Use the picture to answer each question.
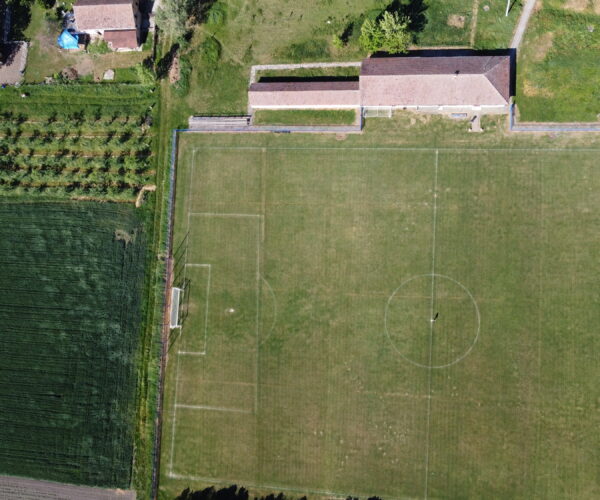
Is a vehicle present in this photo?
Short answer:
No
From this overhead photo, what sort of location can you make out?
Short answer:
sports ground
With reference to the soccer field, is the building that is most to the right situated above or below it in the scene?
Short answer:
above it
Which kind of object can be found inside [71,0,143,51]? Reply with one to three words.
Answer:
house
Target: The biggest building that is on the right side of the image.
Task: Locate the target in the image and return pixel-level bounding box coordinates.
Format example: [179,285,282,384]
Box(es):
[360,54,510,113]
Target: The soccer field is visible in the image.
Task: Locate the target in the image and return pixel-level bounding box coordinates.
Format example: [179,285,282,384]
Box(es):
[156,111,600,500]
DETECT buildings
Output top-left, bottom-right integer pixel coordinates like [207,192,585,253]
[71,0,143,51]
[360,54,510,113]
